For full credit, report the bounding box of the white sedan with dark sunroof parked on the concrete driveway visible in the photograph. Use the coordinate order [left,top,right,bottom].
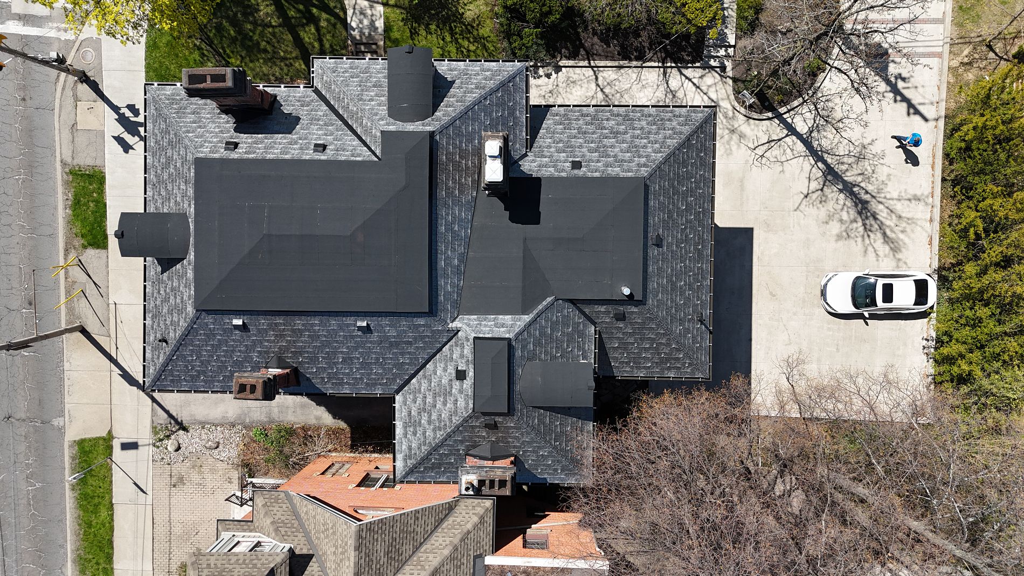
[818,266,940,321]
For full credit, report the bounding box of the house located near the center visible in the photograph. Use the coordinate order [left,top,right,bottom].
[113,43,717,497]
